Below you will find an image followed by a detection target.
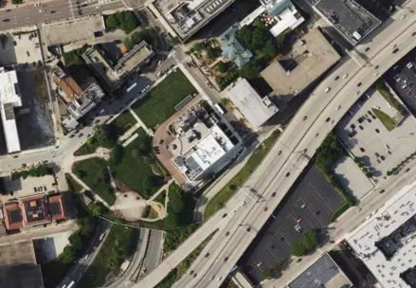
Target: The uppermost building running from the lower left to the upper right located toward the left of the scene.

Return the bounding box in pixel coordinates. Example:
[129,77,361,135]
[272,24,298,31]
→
[69,82,105,119]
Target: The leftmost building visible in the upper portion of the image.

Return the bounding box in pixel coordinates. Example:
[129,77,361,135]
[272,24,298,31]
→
[0,67,21,155]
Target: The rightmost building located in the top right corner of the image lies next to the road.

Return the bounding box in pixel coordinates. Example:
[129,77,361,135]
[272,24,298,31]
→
[311,0,382,46]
